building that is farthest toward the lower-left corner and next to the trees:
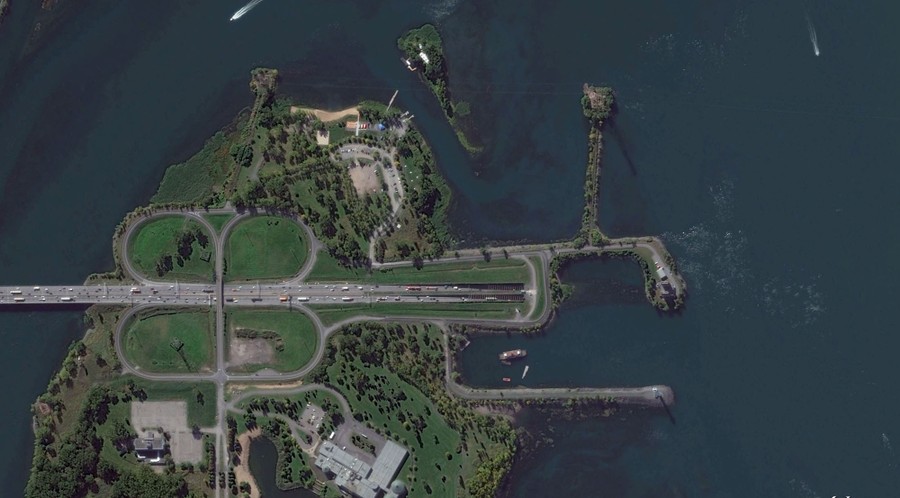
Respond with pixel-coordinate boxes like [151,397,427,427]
[134,432,166,466]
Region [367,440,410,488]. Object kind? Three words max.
building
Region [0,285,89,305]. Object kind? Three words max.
bridge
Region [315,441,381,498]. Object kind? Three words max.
building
